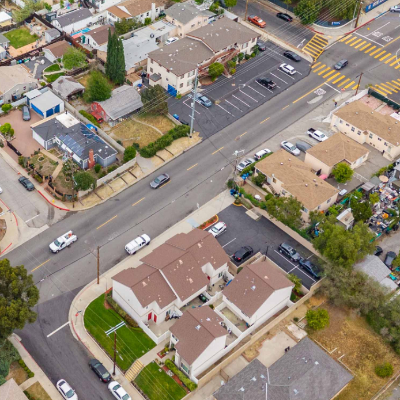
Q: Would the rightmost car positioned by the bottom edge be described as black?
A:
No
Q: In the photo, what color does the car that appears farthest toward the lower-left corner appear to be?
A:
white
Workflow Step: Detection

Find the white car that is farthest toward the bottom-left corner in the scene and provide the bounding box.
[52,378,80,400]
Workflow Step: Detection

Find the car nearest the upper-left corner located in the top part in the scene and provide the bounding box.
[17,106,34,121]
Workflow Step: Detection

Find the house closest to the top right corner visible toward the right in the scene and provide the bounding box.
[333,91,400,160]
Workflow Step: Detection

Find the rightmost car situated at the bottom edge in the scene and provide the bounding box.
[106,380,133,400]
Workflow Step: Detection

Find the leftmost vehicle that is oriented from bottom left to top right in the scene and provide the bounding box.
[46,227,80,255]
